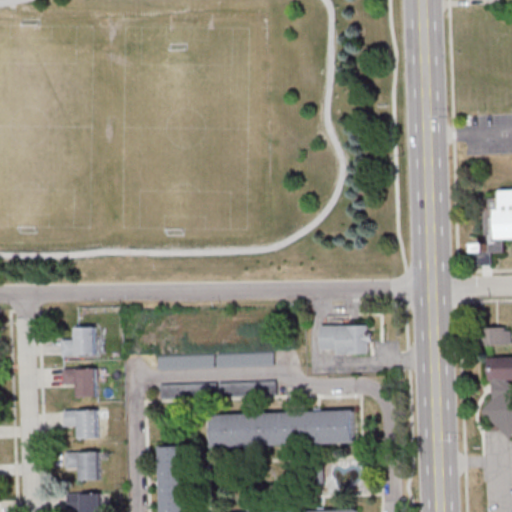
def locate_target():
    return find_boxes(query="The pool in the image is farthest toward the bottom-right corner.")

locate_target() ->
[333,466,362,492]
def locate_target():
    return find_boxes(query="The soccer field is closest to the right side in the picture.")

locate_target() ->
[123,26,250,230]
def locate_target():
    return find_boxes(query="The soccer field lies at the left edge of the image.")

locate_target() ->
[0,24,94,230]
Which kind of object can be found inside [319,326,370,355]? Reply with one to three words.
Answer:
building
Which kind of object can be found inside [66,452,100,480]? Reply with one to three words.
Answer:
house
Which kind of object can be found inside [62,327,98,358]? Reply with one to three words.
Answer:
house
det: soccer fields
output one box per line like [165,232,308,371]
[123,26,250,230]
[0,24,94,230]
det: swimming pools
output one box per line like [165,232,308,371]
[333,466,362,492]
[103,388,114,398]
